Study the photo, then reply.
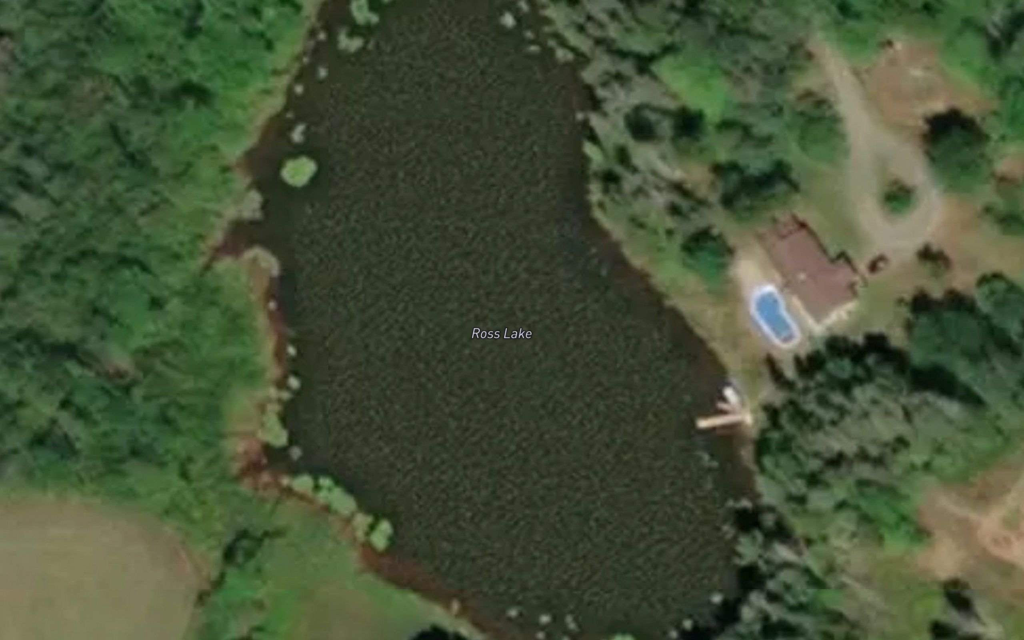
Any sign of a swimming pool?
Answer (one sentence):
Yes, the frame does contain a swimming pool.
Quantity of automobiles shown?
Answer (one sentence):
The picture shows no automobiles.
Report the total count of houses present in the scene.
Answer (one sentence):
In total, there is 1 house in the scene.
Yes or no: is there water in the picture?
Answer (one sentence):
Yes, the picture does contain water.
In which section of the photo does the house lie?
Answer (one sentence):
The house is in the right part of the image.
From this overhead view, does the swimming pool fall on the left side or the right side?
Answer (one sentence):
The swimming pool is on the right side of the image.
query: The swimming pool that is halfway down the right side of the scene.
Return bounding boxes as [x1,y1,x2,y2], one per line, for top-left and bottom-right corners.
[750,284,801,348]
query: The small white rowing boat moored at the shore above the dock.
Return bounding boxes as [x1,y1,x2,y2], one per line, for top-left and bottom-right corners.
[722,383,739,407]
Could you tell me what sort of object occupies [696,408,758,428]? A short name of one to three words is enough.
pier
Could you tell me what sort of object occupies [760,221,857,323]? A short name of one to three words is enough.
house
